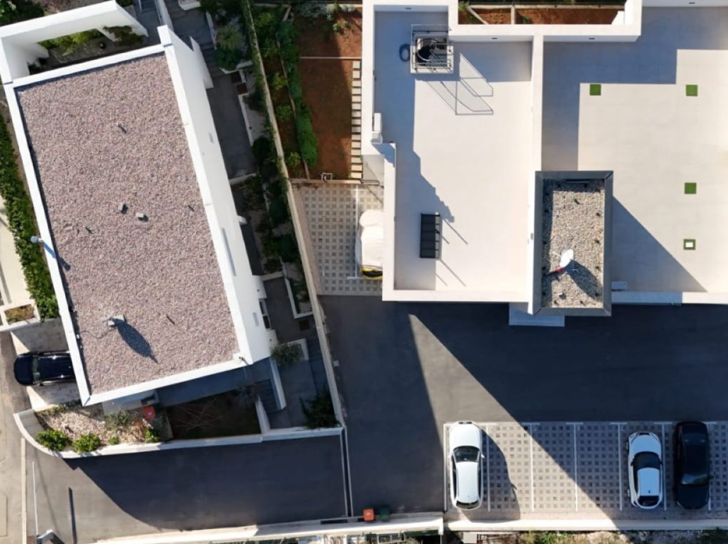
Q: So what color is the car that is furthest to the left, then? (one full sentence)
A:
In this view, the car that is furthest to the left is black.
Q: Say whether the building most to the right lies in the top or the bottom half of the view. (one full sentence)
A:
You can find the building most to the right in the top half.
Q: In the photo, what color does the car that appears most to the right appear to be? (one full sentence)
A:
From above, the car that appears most to the right appears black.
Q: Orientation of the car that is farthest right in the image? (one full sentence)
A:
What the image shows is the car that is farthest right lying vertically.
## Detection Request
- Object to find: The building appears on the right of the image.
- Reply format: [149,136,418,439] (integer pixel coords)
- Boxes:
[362,0,728,327]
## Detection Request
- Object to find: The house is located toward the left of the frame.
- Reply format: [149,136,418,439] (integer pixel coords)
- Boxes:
[0,1,268,409]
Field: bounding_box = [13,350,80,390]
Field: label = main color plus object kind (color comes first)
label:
black car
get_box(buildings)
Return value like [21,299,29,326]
[0,1,268,409]
[362,0,728,327]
